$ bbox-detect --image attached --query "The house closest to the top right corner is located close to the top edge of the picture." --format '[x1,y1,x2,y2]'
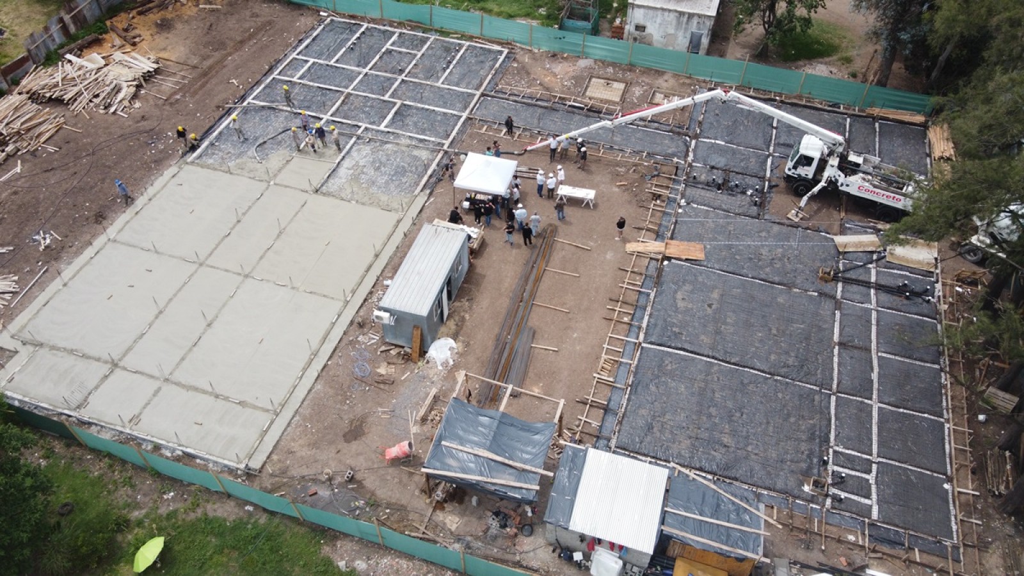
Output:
[625,0,724,56]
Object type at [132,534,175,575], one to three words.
umbrella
